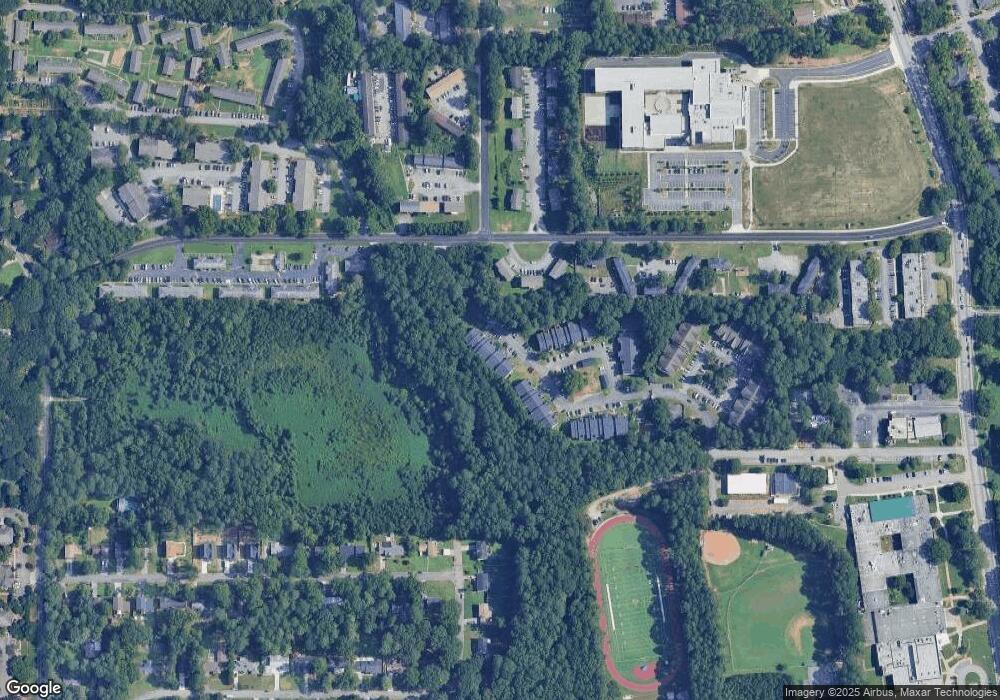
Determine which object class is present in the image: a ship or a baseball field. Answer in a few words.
baseball field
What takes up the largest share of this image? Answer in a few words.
trees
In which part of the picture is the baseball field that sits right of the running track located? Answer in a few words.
bottom right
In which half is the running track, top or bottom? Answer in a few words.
bottom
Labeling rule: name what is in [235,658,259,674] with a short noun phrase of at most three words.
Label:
house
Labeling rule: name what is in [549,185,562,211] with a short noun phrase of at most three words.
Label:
building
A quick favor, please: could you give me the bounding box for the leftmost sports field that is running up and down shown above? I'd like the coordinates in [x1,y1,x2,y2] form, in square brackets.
[594,515,682,691]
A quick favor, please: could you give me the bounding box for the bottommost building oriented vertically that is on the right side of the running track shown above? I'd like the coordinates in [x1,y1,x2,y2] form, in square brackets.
[851,494,951,700]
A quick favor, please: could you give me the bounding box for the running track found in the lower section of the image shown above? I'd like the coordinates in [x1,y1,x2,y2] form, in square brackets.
[594,515,682,691]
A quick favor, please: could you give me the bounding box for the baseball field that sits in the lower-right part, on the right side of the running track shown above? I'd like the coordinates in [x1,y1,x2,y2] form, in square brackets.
[702,531,811,671]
